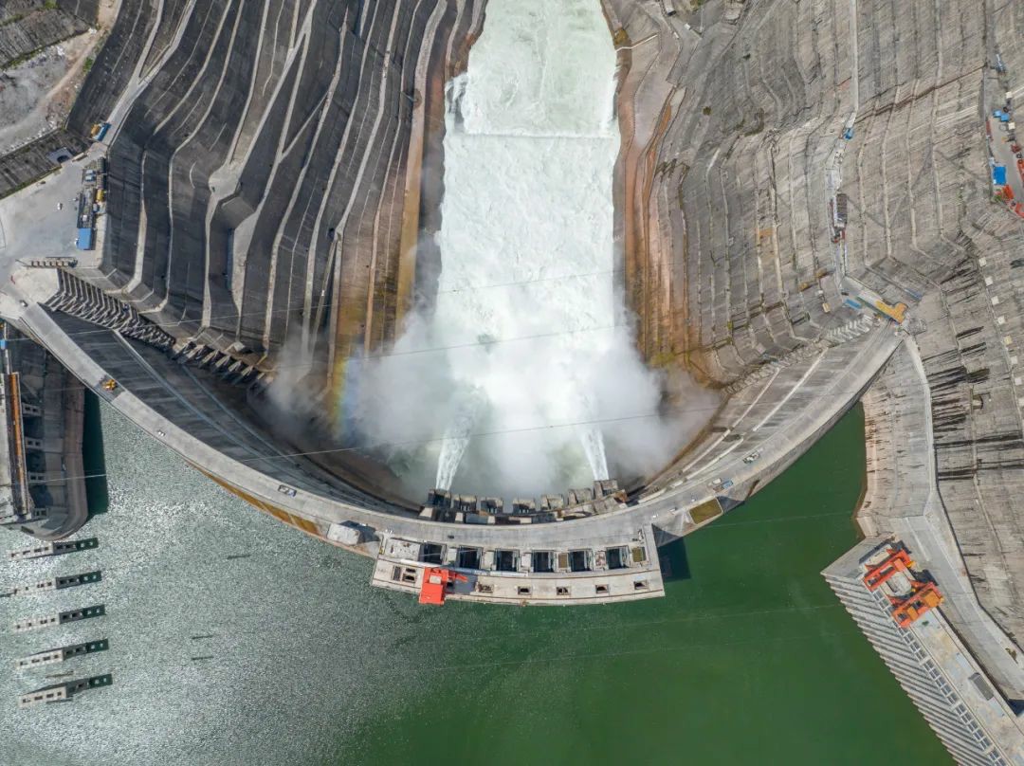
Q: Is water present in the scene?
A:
Yes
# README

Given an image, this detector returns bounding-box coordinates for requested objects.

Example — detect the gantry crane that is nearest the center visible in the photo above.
[421,566,466,605]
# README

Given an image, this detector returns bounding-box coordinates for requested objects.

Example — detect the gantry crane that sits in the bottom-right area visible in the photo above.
[850,547,948,628]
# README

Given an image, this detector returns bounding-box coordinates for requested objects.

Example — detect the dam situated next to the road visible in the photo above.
[0,278,914,606]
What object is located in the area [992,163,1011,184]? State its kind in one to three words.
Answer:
shed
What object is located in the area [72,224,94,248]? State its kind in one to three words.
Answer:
shed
